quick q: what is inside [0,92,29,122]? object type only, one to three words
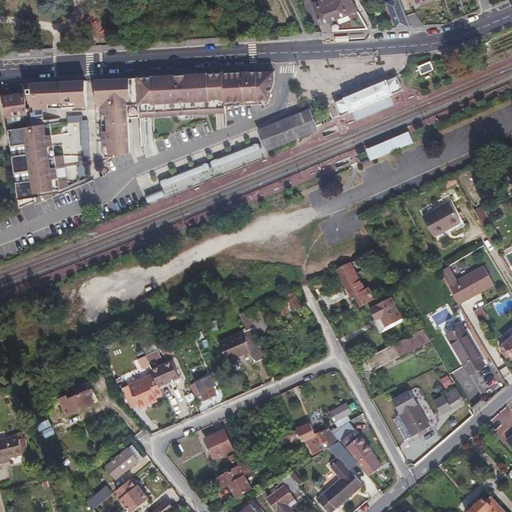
house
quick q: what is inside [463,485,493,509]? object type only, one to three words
shed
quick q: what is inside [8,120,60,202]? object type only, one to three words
building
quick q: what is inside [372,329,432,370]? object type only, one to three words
barn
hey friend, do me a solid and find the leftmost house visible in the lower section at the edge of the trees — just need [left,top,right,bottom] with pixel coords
[0,432,29,468]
